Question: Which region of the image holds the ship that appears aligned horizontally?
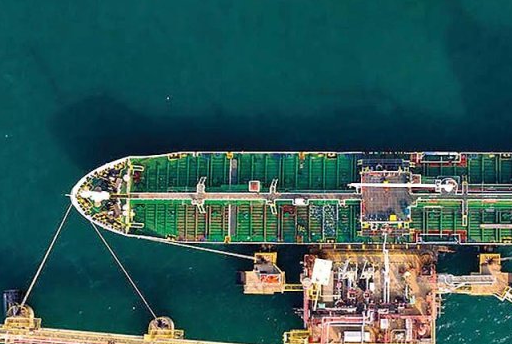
center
